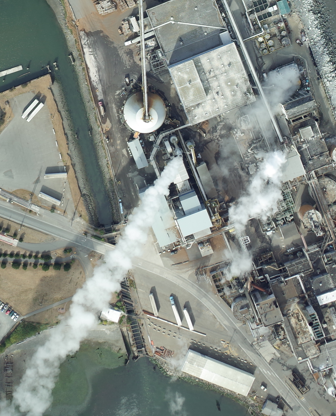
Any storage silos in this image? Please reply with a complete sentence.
Yes, looking at the shot, I can spot a storage silo.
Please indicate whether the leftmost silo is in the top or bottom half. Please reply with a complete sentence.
You can find the leftmost silo in the top half.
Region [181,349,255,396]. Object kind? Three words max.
building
